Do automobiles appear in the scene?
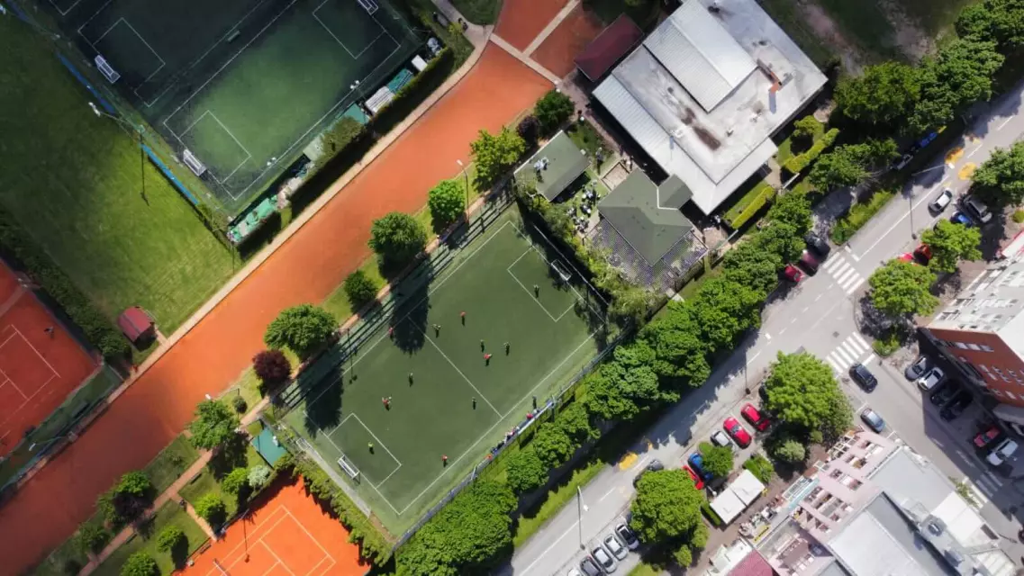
Yes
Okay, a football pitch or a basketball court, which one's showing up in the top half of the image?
football pitch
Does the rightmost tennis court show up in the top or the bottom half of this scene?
bottom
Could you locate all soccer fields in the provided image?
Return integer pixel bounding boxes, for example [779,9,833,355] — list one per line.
[19,0,263,113]
[126,0,421,222]
[280,200,623,532]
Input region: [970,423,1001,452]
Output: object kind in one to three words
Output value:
car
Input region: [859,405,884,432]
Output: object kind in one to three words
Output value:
car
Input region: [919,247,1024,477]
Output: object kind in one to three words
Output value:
building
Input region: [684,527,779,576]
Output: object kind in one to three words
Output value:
house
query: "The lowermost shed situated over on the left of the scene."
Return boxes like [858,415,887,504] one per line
[253,429,292,469]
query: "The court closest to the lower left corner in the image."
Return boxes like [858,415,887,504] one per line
[0,294,98,457]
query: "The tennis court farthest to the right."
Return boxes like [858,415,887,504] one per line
[187,474,384,576]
